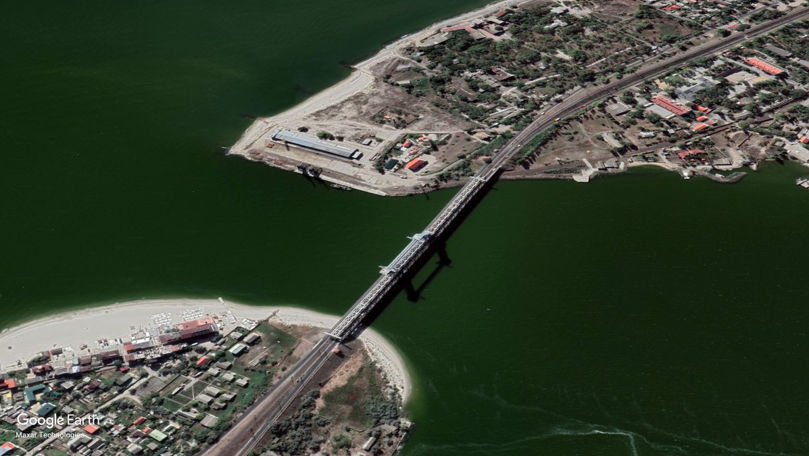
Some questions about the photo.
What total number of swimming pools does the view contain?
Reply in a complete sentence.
The picture shows no swimming pools.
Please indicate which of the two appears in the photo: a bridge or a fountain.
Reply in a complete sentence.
This aerial view contains a bridge.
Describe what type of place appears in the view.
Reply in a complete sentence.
This looks like a port.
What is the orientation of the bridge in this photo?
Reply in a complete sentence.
The bridge runs on a diagonal in the image.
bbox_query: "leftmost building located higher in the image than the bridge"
[270,131,359,164]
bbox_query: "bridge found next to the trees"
[316,179,495,352]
